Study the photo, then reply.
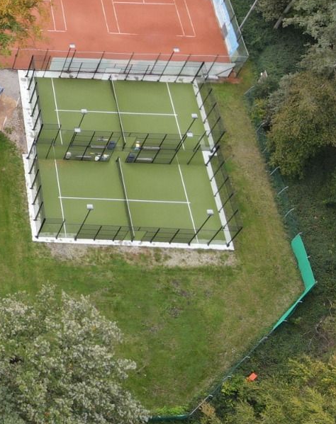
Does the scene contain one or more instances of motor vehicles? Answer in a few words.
No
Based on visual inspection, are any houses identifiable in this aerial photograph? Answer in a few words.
No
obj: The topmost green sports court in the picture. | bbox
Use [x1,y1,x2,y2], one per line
[27,43,225,149]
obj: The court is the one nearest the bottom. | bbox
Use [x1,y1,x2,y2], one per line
[27,125,243,242]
